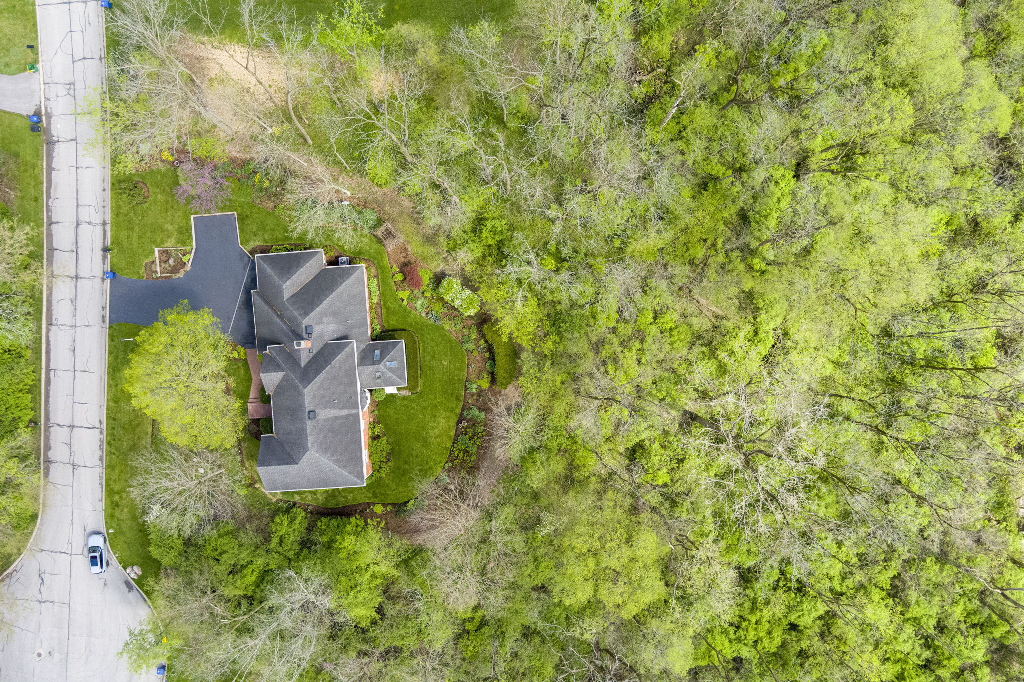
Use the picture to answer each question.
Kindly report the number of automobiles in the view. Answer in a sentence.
I count 1 automobile.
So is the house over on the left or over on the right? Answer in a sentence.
It is on the left.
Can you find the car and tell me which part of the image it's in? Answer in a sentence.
The car sits in the bottom left section of the image.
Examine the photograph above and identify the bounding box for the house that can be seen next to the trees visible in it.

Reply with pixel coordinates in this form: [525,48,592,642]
[251,249,409,492]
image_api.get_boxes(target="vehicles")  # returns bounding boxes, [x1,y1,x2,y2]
[83,533,108,575]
